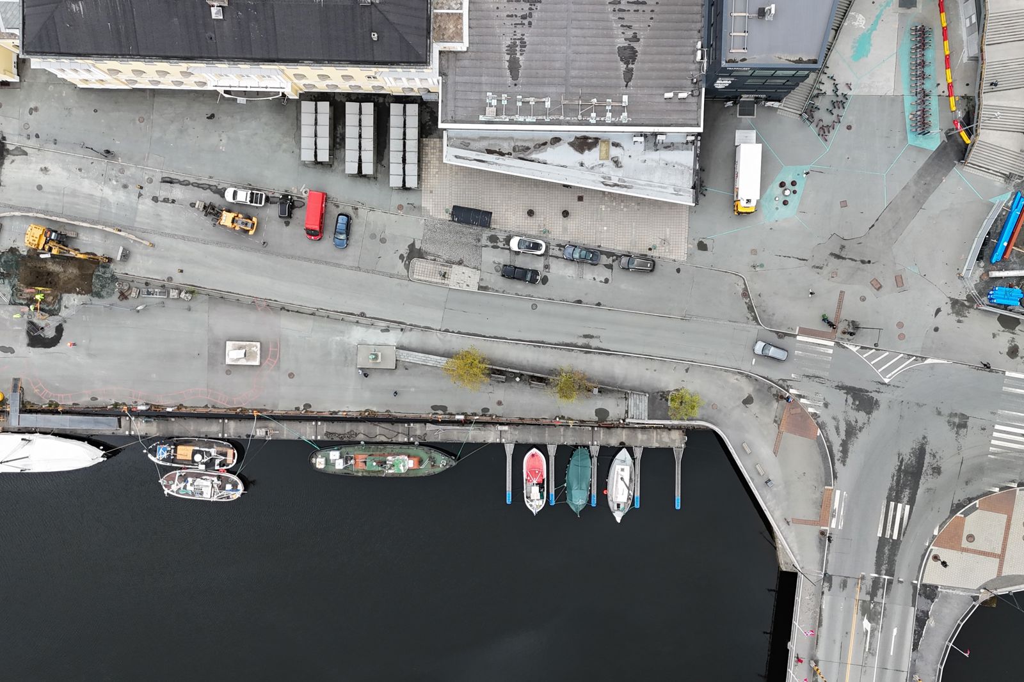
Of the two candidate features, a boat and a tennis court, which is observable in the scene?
boat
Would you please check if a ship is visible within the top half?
No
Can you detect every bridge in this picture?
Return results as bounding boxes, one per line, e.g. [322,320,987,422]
[771,531,996,682]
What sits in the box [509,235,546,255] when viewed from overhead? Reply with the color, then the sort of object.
white car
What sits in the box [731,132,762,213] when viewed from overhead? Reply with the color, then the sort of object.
white truck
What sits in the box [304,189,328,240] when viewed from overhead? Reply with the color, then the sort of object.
red vehicle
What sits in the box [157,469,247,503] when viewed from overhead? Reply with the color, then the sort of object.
white boat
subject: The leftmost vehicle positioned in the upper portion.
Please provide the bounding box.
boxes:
[22,225,108,262]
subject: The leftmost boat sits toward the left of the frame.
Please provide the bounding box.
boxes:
[0,434,114,472]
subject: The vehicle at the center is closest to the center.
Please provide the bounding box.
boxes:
[500,264,542,286]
